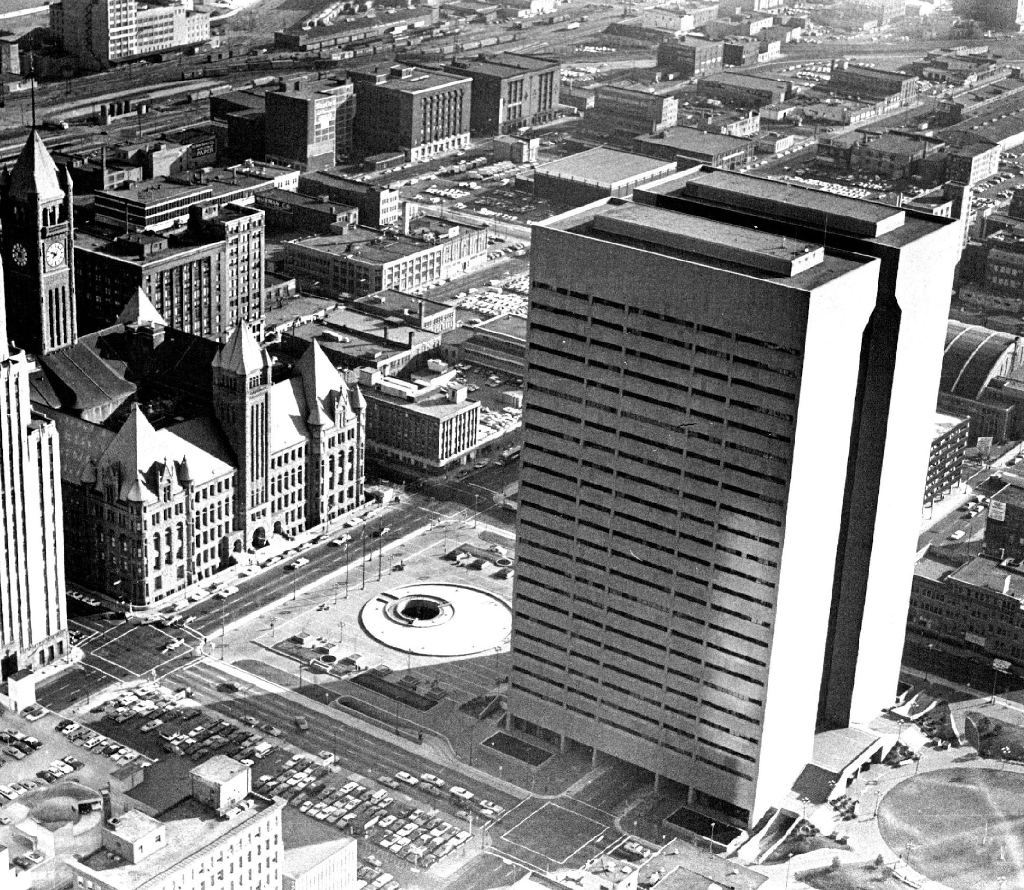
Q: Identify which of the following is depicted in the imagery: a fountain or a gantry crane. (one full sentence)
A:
It is a fountain that can be seen here.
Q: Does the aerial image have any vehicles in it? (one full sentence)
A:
Yes, a vehicle appears in the view.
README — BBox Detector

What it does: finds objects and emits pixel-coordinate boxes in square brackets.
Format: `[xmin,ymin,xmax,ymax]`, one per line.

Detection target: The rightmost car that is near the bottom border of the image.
[622,843,649,858]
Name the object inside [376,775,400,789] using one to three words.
car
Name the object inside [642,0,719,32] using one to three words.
building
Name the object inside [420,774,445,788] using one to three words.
car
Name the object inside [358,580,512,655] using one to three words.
fountain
